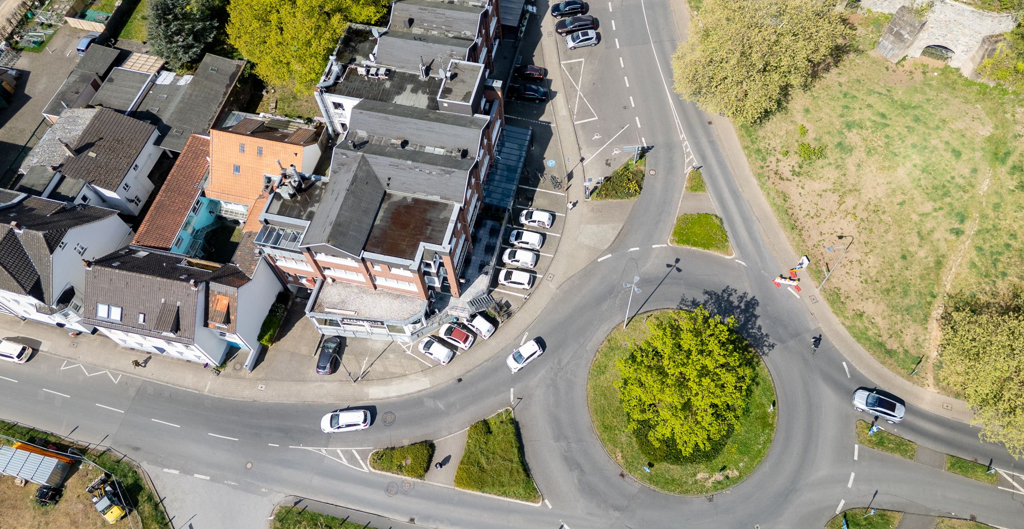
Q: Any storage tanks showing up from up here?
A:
No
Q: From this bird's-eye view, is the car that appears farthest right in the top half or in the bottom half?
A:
bottom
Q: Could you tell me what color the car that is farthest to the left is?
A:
white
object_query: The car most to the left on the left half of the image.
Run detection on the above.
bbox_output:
[0,335,31,362]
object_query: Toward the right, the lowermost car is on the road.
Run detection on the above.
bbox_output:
[850,389,908,424]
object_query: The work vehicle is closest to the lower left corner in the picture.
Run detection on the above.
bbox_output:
[82,466,126,521]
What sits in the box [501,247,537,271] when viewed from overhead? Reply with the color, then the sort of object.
white car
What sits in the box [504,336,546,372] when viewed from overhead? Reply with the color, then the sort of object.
white car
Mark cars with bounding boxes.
[565,28,600,50]
[417,338,454,367]
[518,208,553,231]
[438,323,474,352]
[495,267,537,293]
[316,335,343,377]
[509,83,548,103]
[460,314,496,343]
[508,228,544,252]
[550,0,587,19]
[557,12,595,35]
[501,247,537,271]
[0,335,31,362]
[850,389,908,424]
[322,409,372,437]
[511,64,549,84]
[504,336,546,372]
